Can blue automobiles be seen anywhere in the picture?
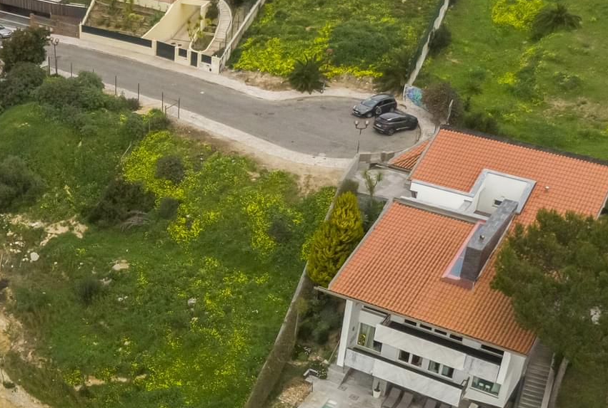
No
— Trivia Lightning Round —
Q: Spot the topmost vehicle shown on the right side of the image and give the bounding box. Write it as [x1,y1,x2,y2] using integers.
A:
[351,93,399,117]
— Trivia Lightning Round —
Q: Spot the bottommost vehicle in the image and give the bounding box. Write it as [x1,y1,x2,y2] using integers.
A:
[373,110,421,134]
